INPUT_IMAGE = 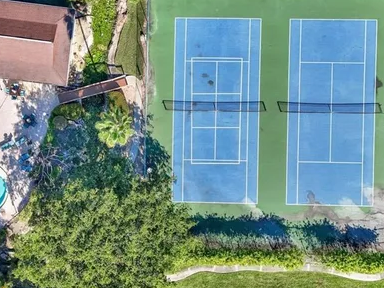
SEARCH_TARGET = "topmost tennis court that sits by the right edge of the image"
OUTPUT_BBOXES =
[287,19,376,206]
